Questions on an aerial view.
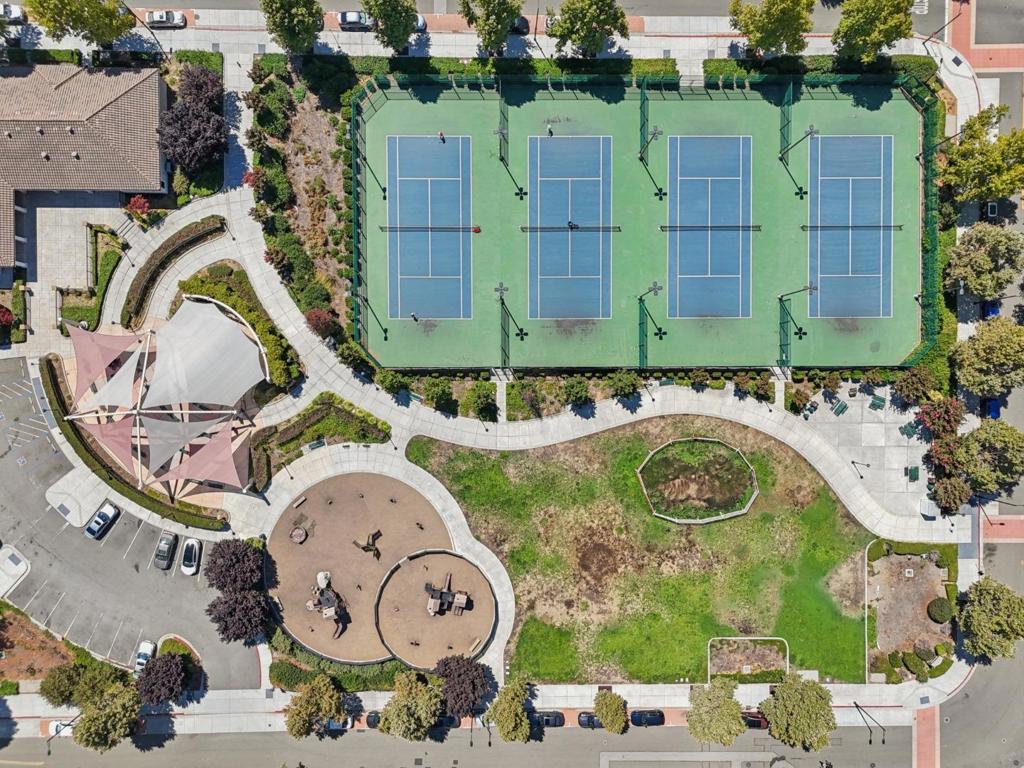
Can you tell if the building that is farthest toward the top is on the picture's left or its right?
left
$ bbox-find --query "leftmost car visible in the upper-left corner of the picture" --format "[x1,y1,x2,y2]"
[0,3,30,24]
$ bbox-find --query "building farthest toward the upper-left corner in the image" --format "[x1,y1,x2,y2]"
[0,60,167,268]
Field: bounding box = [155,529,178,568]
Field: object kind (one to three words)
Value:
car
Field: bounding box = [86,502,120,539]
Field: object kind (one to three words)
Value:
car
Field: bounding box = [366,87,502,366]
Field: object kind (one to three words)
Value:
tennis court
